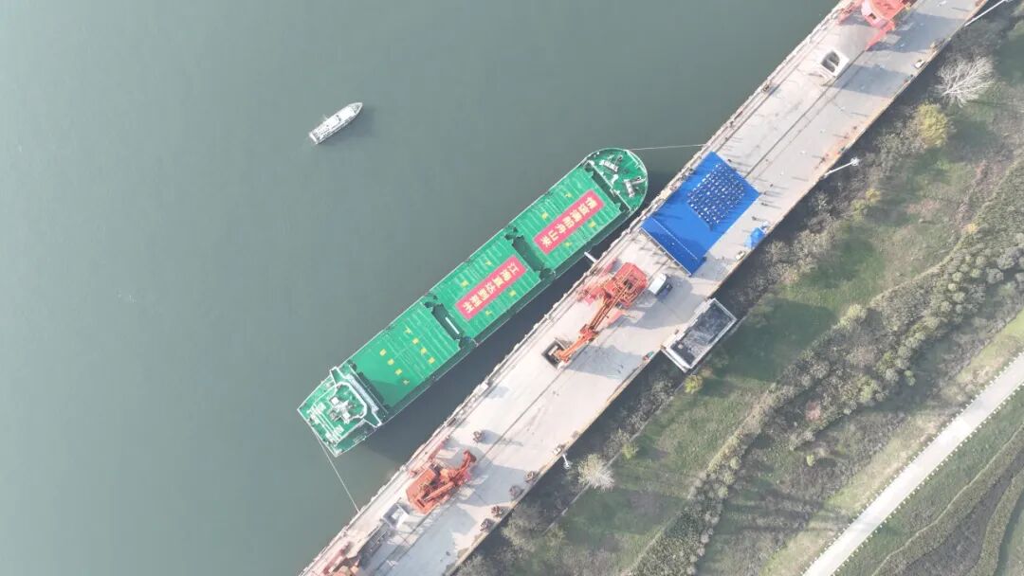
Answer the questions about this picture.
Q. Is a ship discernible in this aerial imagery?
Yes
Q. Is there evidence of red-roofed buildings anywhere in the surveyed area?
No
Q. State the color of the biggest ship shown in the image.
green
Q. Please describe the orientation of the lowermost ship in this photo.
at an angle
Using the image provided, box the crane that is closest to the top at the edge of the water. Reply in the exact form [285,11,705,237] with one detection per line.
[837,0,914,48]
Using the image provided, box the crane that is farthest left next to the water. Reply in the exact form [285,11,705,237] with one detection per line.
[315,544,356,576]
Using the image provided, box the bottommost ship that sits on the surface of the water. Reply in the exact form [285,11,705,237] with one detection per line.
[294,146,650,452]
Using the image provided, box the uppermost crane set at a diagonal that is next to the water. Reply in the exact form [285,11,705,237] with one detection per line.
[556,257,650,364]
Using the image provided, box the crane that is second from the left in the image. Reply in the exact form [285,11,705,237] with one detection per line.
[411,435,480,517]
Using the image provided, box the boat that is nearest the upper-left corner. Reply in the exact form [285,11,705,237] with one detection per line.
[309,105,361,145]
